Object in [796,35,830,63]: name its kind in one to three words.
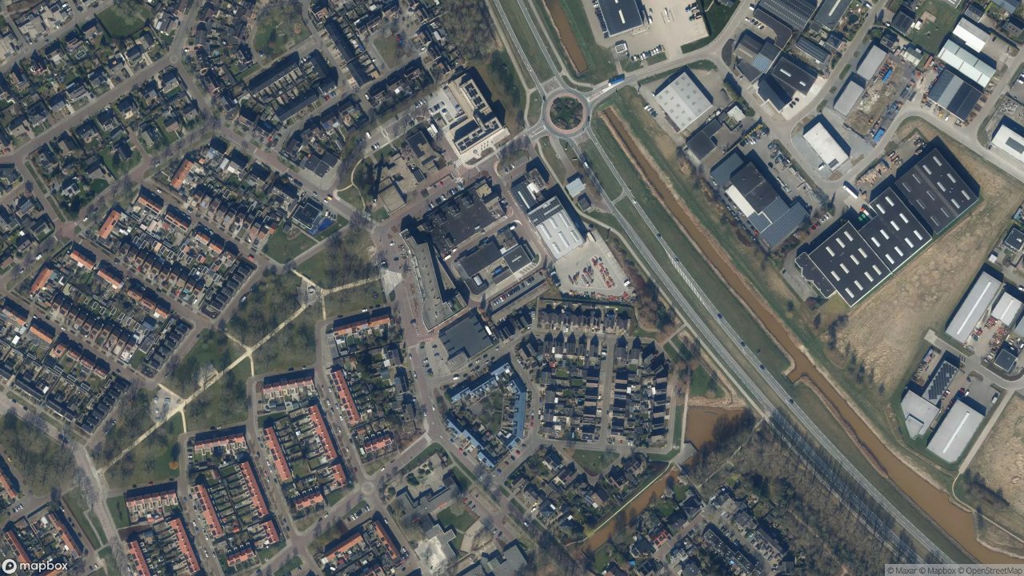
barn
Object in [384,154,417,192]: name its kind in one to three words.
house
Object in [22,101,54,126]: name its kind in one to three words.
house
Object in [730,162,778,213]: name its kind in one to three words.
building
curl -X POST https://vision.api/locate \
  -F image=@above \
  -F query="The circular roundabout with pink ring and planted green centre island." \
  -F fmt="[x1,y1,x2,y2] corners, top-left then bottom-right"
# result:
[541,87,591,137]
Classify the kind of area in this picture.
residential area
